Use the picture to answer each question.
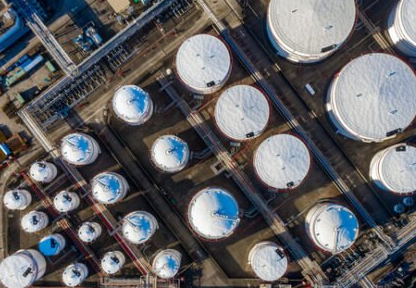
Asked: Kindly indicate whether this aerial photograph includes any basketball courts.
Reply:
No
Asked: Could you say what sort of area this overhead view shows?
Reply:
industrial area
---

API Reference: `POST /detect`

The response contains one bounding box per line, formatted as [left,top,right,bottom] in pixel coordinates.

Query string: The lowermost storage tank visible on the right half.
[248,240,289,283]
